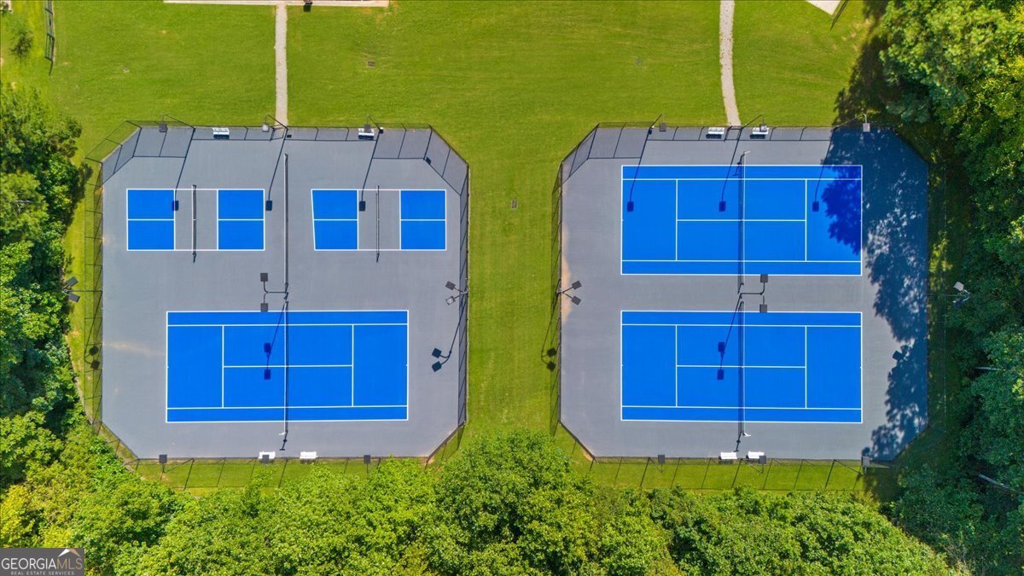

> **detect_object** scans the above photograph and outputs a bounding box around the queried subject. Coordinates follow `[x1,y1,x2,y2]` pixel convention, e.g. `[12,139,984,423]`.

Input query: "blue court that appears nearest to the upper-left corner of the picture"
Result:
[127,189,264,251]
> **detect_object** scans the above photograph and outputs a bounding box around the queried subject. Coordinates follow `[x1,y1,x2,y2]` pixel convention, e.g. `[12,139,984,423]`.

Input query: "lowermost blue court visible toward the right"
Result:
[621,311,863,424]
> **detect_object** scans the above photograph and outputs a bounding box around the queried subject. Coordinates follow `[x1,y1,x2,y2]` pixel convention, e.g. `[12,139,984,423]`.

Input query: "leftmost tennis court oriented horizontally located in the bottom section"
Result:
[168,310,408,423]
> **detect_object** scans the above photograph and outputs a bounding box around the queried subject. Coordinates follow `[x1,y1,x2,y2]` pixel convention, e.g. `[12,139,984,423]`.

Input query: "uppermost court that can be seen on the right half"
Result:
[622,165,863,276]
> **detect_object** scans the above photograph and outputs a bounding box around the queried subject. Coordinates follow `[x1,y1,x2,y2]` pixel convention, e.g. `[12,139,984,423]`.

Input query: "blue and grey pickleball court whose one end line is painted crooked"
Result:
[311,189,446,250]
